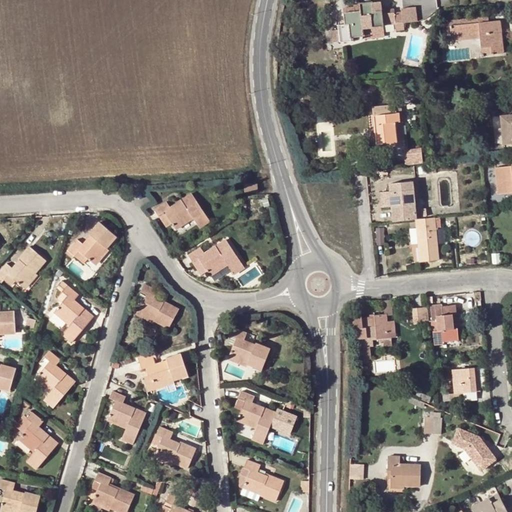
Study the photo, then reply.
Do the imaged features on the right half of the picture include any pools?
Yes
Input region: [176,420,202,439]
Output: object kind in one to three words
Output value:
swimming pool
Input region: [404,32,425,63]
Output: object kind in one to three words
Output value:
swimming pool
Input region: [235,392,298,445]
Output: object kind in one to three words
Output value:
house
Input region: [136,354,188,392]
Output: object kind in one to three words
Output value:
house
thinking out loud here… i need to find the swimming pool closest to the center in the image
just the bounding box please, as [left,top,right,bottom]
[236,266,262,287]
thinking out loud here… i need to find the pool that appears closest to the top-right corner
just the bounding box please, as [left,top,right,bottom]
[448,46,472,62]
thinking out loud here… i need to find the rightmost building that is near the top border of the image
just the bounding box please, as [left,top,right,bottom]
[452,17,504,55]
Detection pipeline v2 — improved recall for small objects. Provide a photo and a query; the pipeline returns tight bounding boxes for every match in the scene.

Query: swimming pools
[437,177,452,208]
[2,337,22,352]
[448,46,472,62]
[66,261,87,279]
[320,130,334,153]
[269,433,298,456]
[464,229,482,247]
[157,384,188,405]
[224,362,246,381]
[100,445,128,467]
[404,32,425,63]
[236,266,262,287]
[374,358,396,375]
[285,496,305,512]
[176,420,202,439]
